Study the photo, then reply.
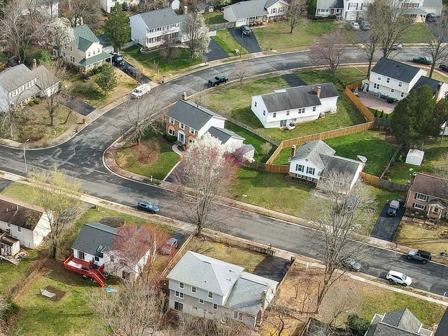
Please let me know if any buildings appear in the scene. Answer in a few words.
Yes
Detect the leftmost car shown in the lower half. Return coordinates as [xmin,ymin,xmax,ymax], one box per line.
[135,196,160,212]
